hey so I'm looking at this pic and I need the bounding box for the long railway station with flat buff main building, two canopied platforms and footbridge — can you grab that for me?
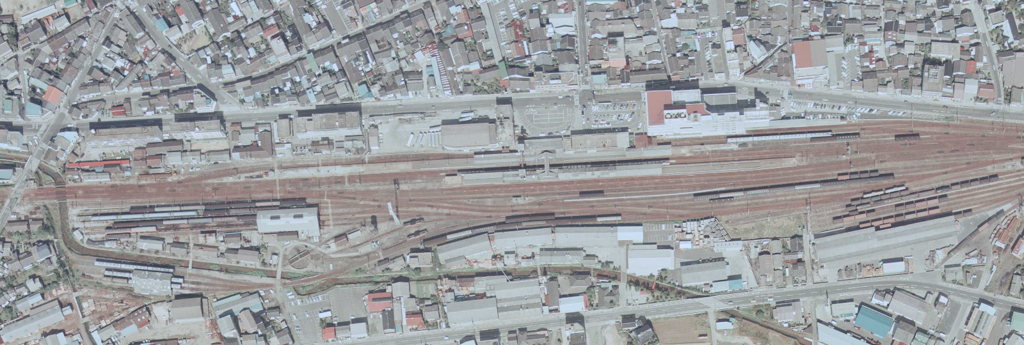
[280,130,797,186]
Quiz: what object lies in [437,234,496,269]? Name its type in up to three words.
building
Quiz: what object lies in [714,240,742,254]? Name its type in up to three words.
building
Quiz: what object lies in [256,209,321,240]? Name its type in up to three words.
shed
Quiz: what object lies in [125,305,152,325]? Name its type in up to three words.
house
